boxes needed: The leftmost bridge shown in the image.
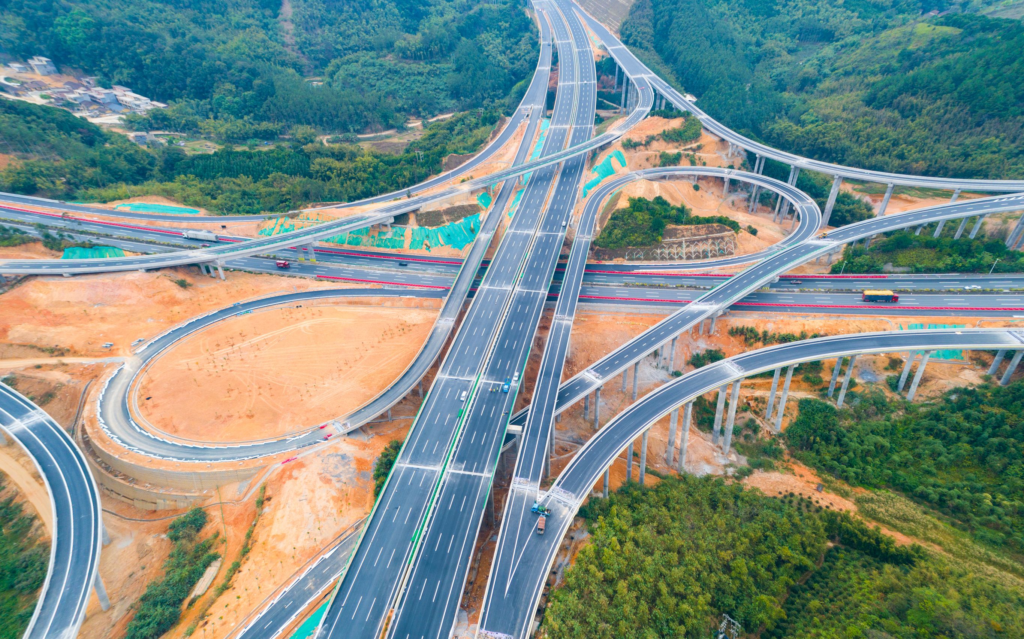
[0,382,119,639]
